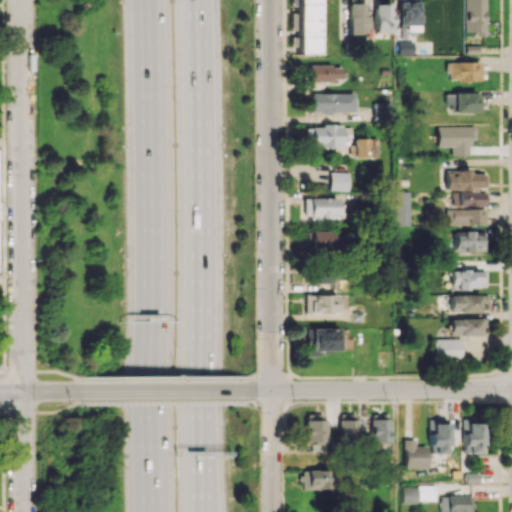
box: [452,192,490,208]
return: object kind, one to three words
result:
house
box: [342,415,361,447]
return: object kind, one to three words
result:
house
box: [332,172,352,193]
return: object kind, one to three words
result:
building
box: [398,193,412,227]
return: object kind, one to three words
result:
shed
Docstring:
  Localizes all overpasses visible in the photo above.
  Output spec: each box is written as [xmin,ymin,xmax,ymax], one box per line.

[73,376,256,406]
